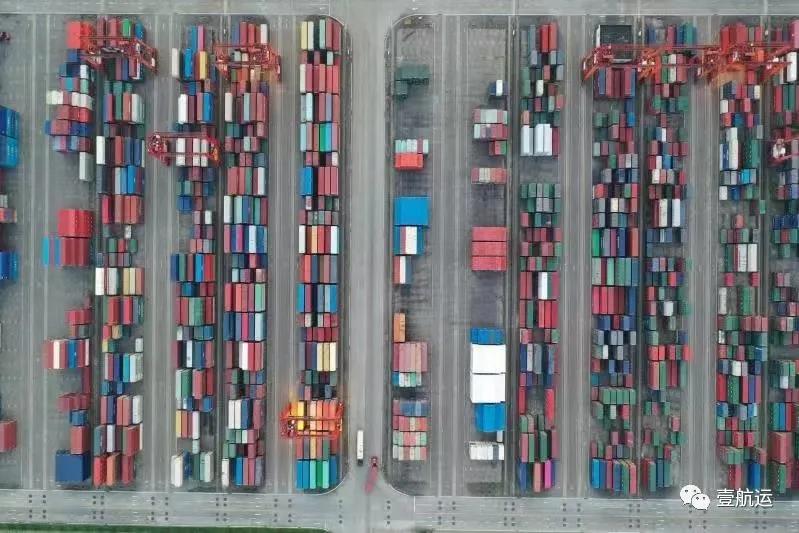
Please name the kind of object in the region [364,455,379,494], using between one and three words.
vehicle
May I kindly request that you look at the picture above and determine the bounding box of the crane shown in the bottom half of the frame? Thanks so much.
[279,402,344,439]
